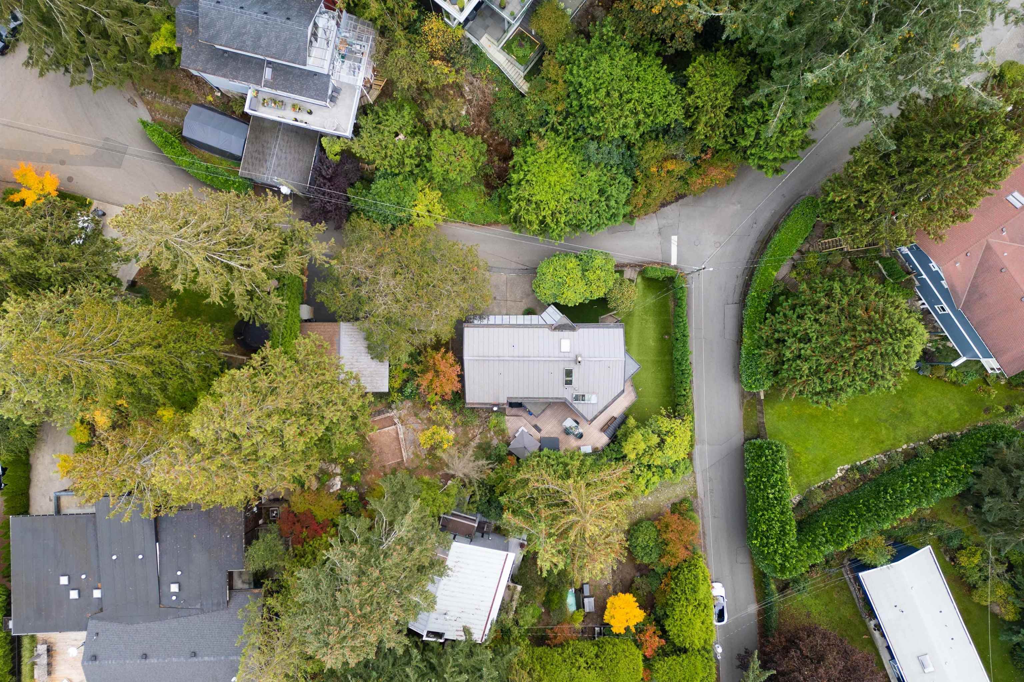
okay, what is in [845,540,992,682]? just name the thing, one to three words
house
